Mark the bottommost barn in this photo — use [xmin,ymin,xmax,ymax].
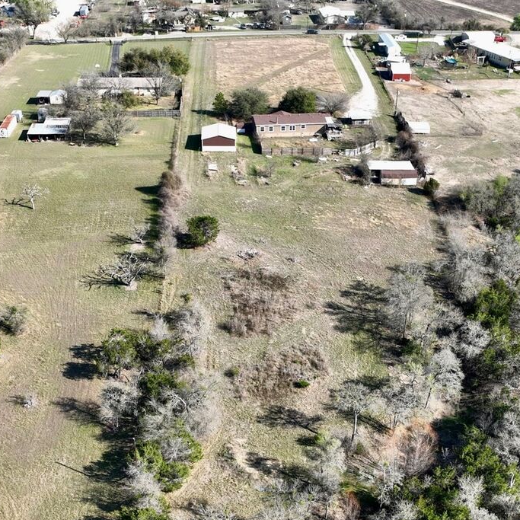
[366,159,419,184]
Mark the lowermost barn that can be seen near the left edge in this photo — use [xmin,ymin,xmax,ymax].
[25,111,69,140]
